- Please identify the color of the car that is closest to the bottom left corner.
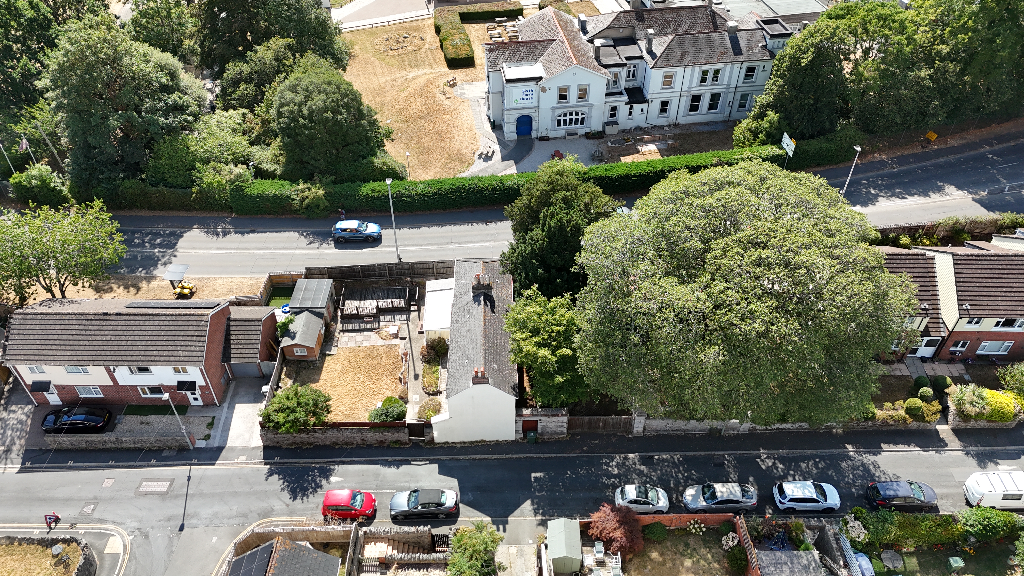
black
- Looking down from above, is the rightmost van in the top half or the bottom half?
bottom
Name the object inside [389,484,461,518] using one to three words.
car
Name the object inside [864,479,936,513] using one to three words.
car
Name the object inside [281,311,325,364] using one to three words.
shed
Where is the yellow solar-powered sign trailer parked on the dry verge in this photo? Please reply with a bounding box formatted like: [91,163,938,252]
[162,264,208,298]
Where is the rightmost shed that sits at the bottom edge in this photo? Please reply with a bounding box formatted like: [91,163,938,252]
[547,518,582,571]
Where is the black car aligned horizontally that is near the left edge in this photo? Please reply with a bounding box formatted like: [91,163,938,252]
[45,402,117,433]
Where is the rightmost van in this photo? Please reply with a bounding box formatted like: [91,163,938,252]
[965,468,1024,510]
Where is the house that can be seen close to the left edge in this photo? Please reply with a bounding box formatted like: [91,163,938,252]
[2,298,278,407]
